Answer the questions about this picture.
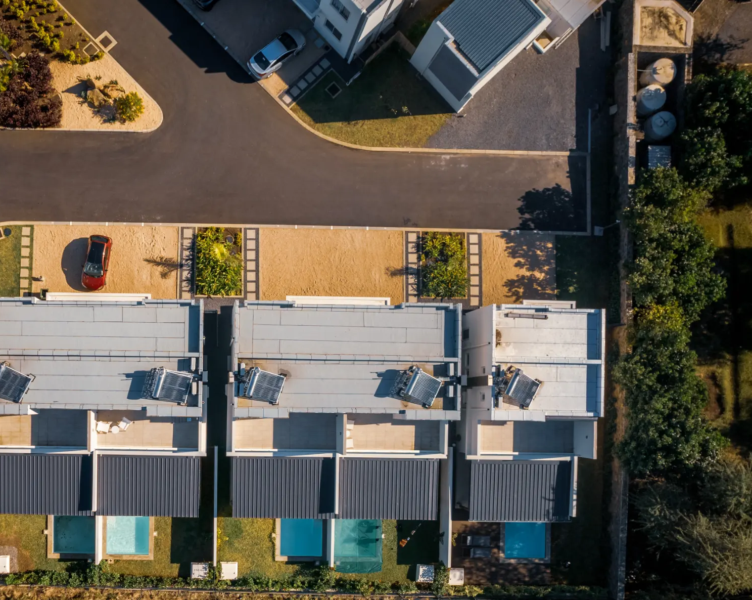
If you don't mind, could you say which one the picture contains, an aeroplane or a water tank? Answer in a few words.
water tank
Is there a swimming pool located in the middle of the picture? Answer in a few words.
No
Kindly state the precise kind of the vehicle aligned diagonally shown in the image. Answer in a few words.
automobile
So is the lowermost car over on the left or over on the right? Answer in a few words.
left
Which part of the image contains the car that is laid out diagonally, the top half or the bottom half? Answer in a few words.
top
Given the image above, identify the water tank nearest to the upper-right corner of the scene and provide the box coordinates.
[641,60,674,89]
